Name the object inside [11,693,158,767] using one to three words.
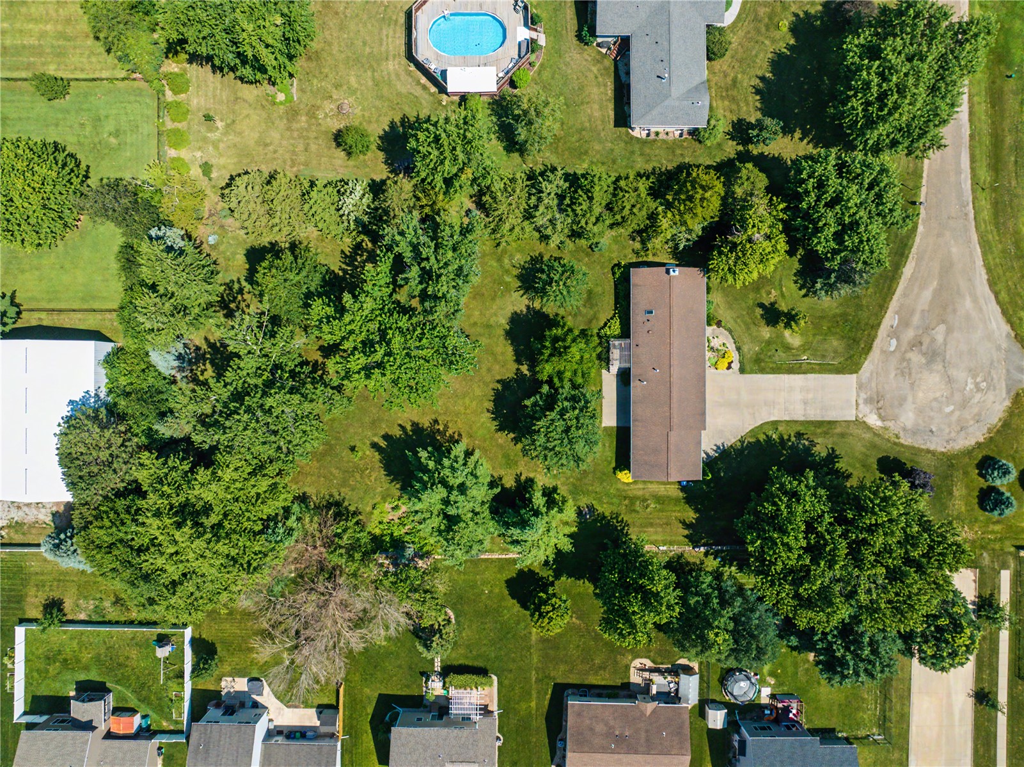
house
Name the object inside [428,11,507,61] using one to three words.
swimming pool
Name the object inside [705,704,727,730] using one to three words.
shed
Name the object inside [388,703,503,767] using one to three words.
house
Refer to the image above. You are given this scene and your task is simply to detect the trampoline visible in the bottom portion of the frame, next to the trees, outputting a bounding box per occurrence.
[721,667,761,708]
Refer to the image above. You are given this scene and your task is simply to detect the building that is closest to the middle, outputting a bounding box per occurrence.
[629,265,707,482]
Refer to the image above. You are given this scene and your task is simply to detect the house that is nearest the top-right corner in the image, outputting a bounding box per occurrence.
[596,0,728,132]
